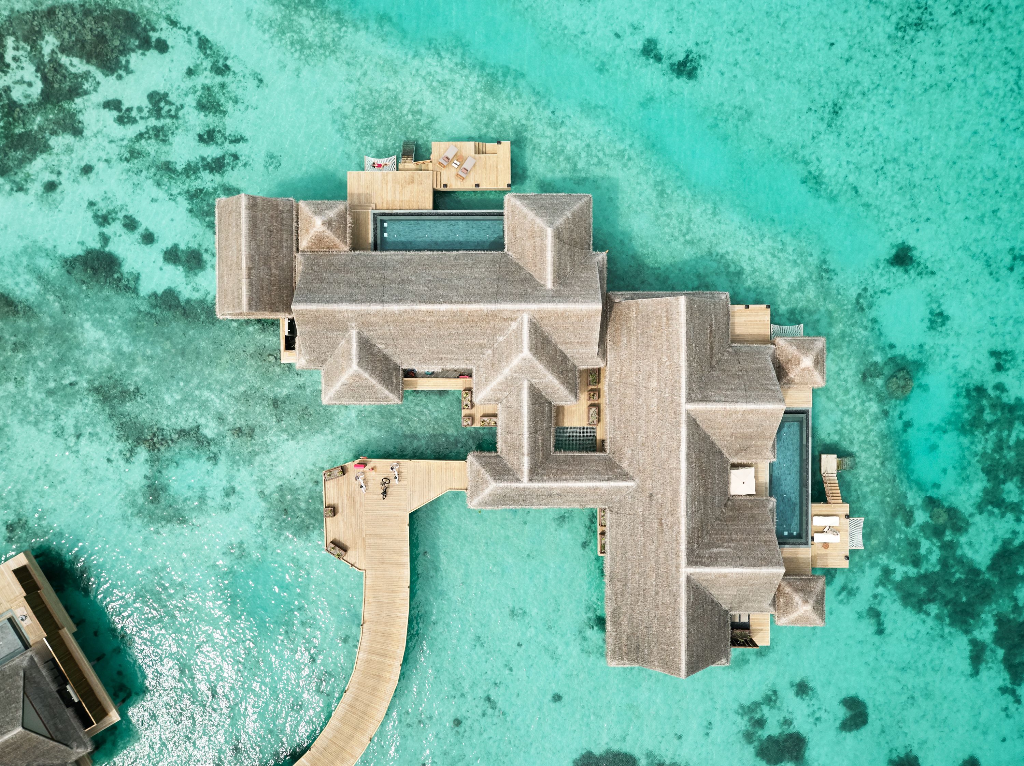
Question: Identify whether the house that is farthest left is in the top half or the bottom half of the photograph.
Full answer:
Seen from above, the house that is farthest left lies in the bottom half of the view.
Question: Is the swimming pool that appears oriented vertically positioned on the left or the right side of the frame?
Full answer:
The swimming pool that appears oriented vertically is on the right side of the image.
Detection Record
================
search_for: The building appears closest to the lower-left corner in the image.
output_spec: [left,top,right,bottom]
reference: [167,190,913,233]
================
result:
[0,547,133,766]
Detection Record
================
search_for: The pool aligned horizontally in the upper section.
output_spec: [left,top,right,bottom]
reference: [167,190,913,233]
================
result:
[371,210,507,254]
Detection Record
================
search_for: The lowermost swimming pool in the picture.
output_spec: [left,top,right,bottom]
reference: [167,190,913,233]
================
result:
[765,407,812,548]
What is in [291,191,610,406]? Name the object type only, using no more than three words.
house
